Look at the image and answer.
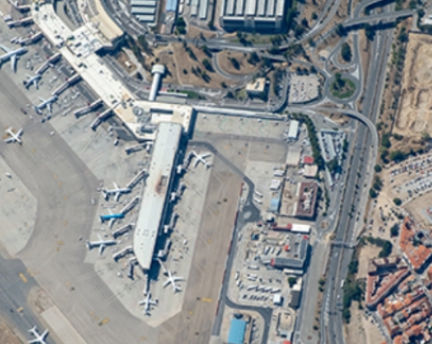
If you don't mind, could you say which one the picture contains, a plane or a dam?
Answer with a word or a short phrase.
plane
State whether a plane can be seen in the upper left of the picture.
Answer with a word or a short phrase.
Yes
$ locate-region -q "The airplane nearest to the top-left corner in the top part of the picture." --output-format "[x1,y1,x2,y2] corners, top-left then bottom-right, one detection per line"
[0,45,29,66]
